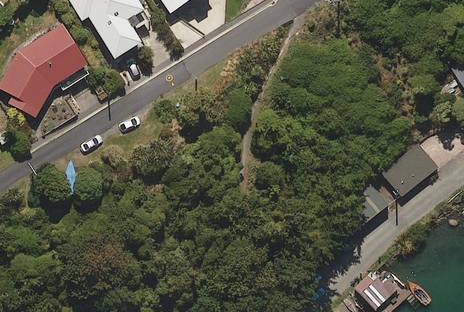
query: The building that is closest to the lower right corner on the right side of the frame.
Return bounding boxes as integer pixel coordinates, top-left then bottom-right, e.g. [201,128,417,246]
[354,272,420,312]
